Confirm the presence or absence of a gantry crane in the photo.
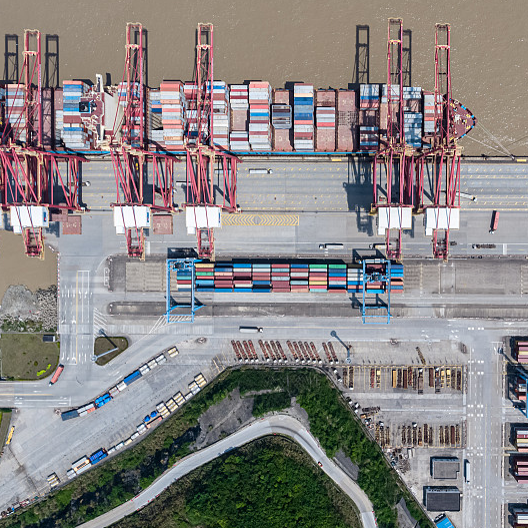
Yes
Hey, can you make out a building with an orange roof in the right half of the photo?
No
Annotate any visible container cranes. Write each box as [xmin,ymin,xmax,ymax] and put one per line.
[358,258,394,323]
[104,23,181,260]
[510,369,528,416]
[373,16,414,260]
[412,22,462,260]
[166,258,208,323]
[0,28,92,260]
[181,22,242,260]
